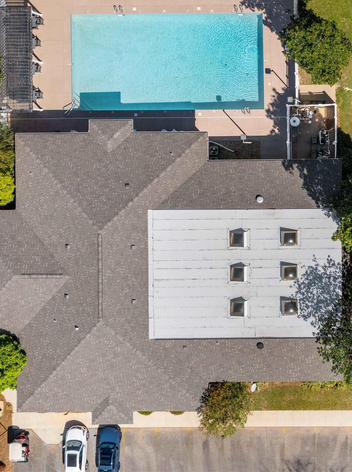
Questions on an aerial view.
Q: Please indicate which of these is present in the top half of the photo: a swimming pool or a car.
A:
swimming pool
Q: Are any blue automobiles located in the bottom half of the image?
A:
Yes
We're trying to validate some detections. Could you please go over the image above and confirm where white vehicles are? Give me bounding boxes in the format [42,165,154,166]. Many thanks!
[6,436,29,468]
[60,429,87,472]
